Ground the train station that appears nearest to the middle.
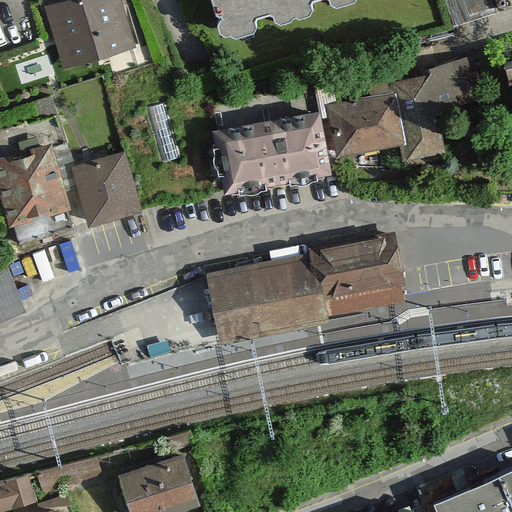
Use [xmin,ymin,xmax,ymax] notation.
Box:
[207,250,328,344]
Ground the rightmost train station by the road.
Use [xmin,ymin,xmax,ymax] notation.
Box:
[312,232,406,299]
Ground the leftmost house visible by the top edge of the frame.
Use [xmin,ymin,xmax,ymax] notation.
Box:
[44,0,136,70]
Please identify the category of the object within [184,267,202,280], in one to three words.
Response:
vehicle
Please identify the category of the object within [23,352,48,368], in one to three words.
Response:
vehicle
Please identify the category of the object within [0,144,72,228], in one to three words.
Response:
house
